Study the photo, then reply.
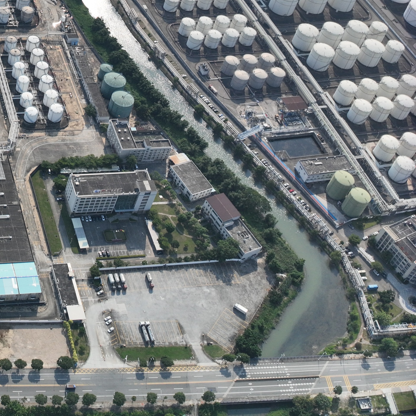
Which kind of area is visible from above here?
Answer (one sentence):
The area seen from above is an industrial area.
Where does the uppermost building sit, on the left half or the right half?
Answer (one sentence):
It is on the left.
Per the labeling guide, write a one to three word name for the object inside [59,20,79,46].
building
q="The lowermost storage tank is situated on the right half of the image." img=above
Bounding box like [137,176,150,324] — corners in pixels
[342,189,371,218]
